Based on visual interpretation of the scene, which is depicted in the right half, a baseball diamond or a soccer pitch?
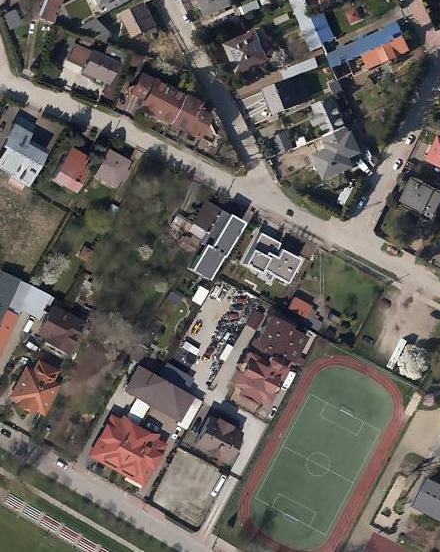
soccer pitch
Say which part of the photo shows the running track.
bottom right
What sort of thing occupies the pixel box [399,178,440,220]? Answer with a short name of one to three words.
house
